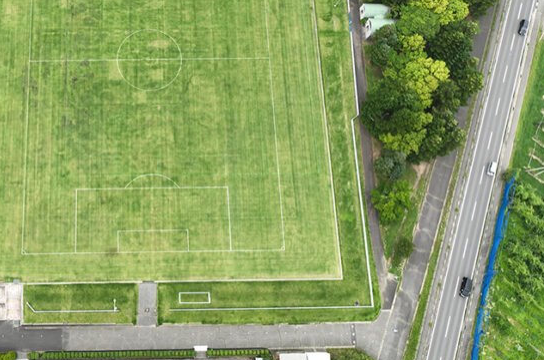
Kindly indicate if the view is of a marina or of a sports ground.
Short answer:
sports ground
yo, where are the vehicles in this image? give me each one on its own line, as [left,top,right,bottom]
[486,161,497,175]
[458,278,472,298]
[517,19,528,35]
